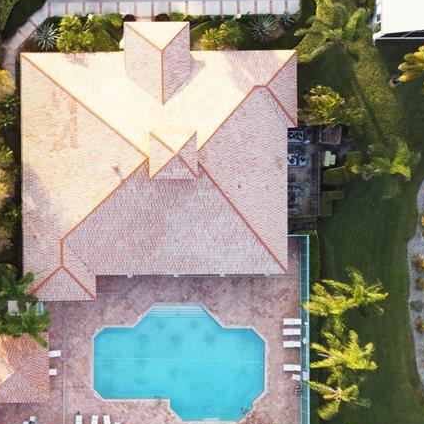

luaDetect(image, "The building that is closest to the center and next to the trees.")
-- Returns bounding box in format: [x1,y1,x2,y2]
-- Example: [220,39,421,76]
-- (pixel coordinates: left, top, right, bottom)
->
[20,21,298,300]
